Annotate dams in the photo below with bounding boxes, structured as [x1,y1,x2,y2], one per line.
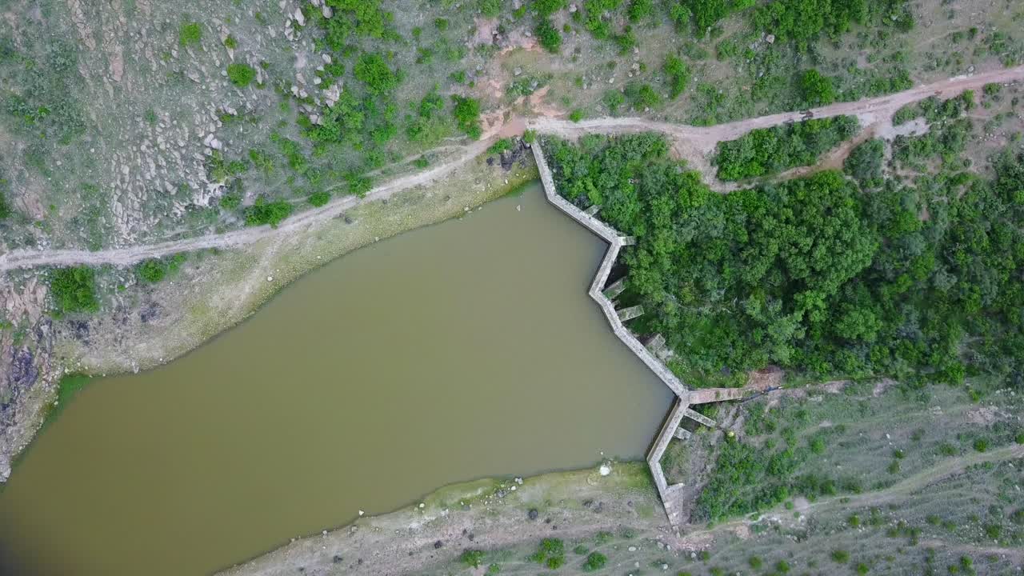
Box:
[531,142,754,525]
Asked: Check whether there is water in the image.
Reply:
Yes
